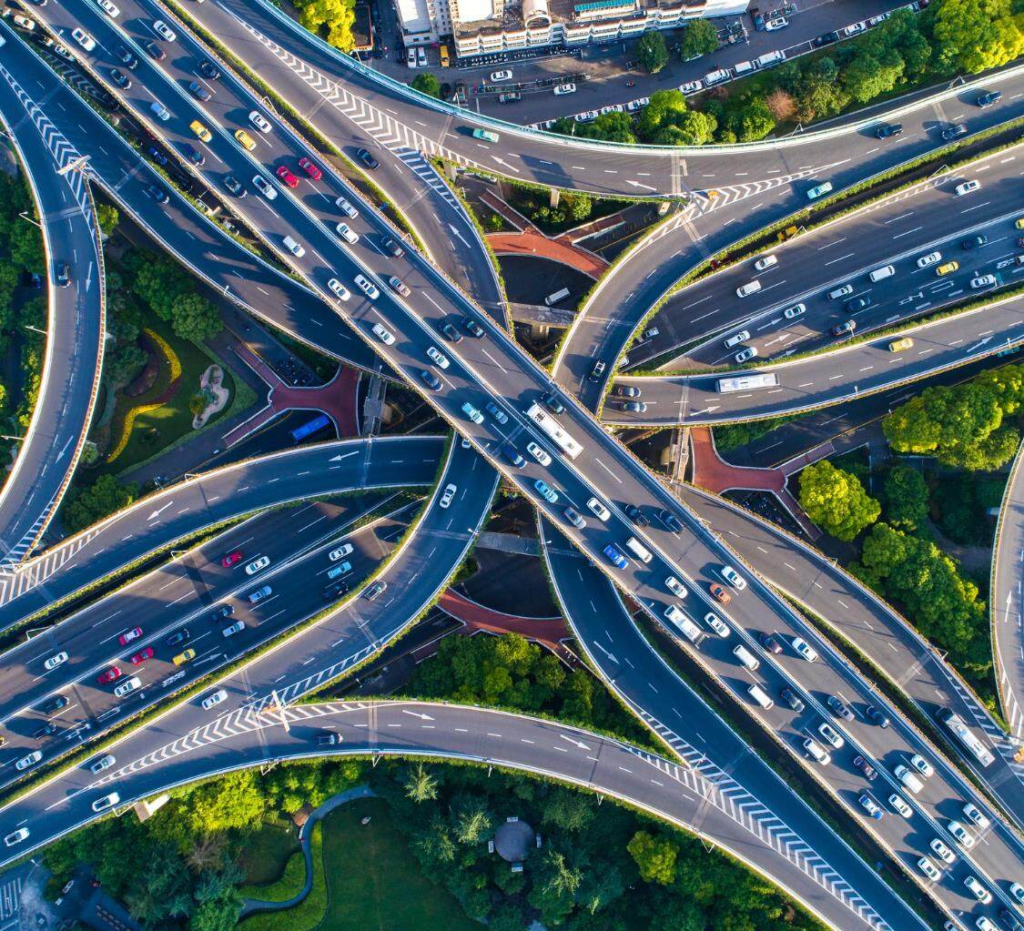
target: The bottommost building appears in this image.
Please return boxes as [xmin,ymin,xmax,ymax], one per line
[495,823,533,861]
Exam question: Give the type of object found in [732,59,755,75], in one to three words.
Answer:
vehicle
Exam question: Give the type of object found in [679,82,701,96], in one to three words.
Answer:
car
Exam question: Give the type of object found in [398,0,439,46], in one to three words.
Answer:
building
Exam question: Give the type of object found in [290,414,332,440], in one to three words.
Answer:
bus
